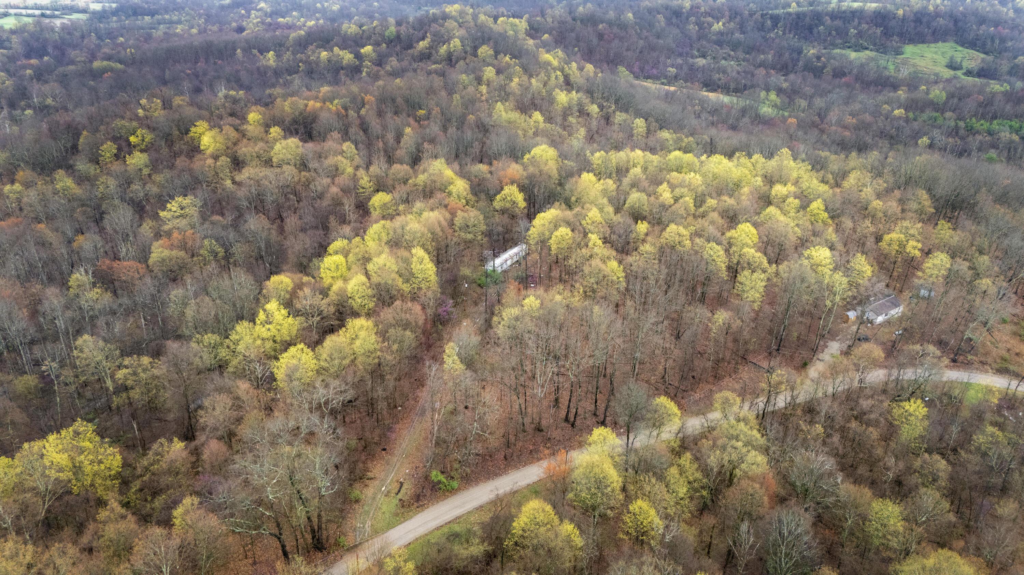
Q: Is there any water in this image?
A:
No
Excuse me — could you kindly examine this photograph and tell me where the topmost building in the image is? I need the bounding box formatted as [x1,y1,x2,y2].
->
[490,243,529,272]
